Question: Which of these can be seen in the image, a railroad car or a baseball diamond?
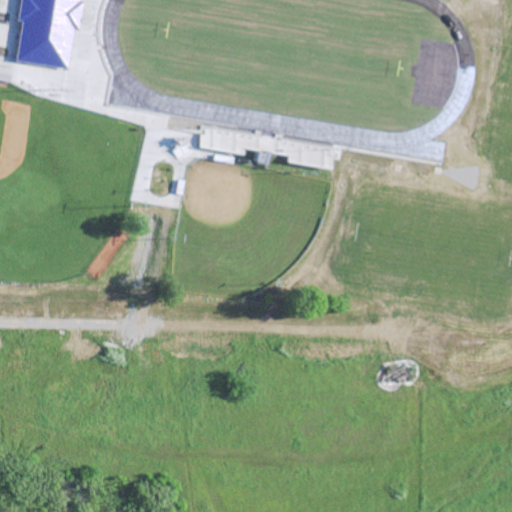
baseball diamond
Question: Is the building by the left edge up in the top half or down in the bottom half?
top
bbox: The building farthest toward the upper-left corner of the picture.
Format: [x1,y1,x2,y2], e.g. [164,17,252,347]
[16,0,82,68]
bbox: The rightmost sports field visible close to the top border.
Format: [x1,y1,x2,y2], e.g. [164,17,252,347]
[118,0,456,132]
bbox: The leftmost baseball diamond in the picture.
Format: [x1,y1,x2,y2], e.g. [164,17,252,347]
[0,84,143,283]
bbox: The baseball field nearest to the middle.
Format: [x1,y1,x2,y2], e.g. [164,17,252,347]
[174,158,331,301]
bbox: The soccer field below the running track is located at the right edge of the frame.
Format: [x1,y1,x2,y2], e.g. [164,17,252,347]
[350,200,512,300]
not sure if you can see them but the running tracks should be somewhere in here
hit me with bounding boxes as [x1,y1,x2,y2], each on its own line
[104,0,474,162]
